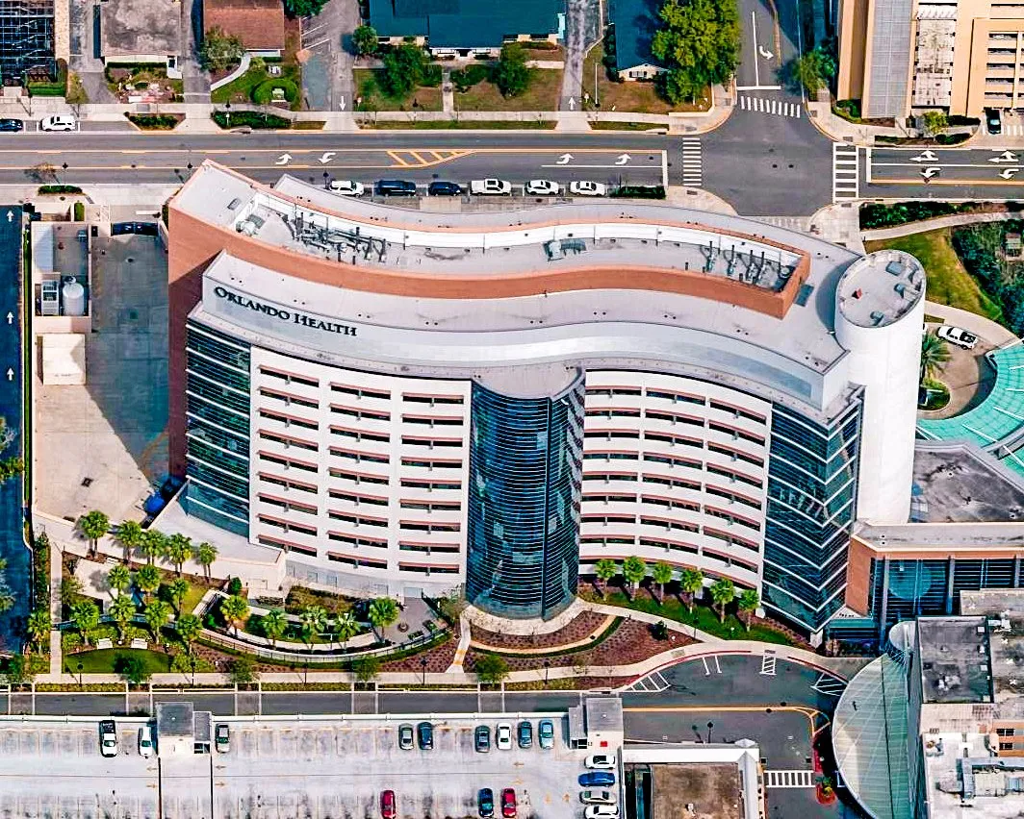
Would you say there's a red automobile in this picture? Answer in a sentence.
Yes, a red automobile can be made out from above.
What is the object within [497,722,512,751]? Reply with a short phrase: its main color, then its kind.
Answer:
white car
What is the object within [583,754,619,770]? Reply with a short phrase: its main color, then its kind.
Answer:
white car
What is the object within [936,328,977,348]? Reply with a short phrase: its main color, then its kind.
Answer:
white vehicle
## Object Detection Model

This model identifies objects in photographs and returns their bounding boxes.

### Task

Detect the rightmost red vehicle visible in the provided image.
[501,789,517,818]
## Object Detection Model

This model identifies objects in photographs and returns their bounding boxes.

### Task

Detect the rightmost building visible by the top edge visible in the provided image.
[851,0,1024,117]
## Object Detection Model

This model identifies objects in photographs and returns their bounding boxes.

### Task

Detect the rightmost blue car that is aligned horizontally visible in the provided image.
[578,770,616,788]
